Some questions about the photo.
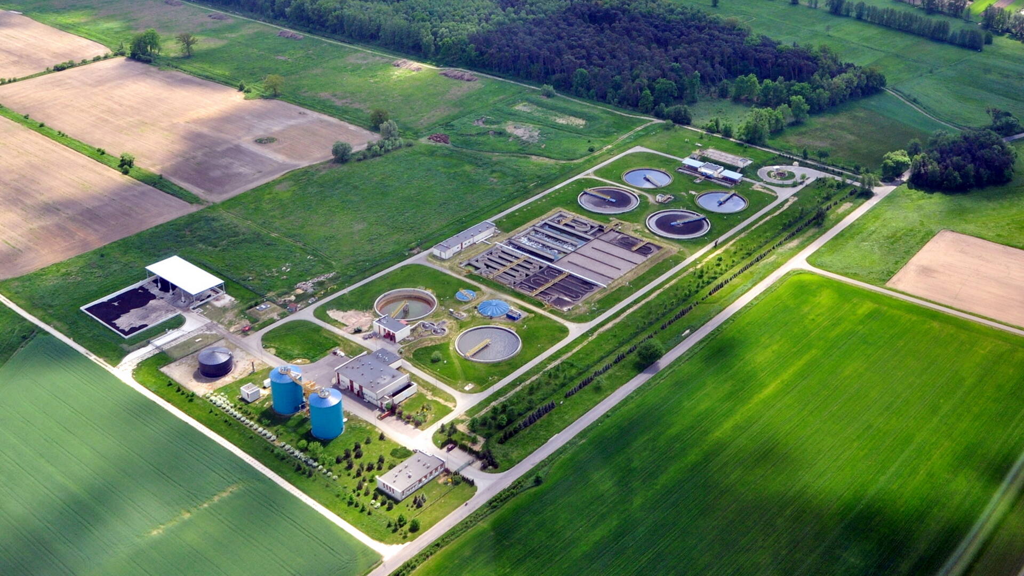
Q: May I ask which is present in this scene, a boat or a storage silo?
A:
storage silo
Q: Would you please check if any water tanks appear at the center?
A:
Yes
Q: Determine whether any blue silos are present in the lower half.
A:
Yes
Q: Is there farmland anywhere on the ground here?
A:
Yes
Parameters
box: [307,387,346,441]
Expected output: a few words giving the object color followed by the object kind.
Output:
blue silo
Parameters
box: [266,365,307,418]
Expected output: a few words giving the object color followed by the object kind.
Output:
blue silo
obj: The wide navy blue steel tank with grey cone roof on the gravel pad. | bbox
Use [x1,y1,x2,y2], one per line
[196,348,235,378]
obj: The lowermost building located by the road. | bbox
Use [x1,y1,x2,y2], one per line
[377,447,444,501]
